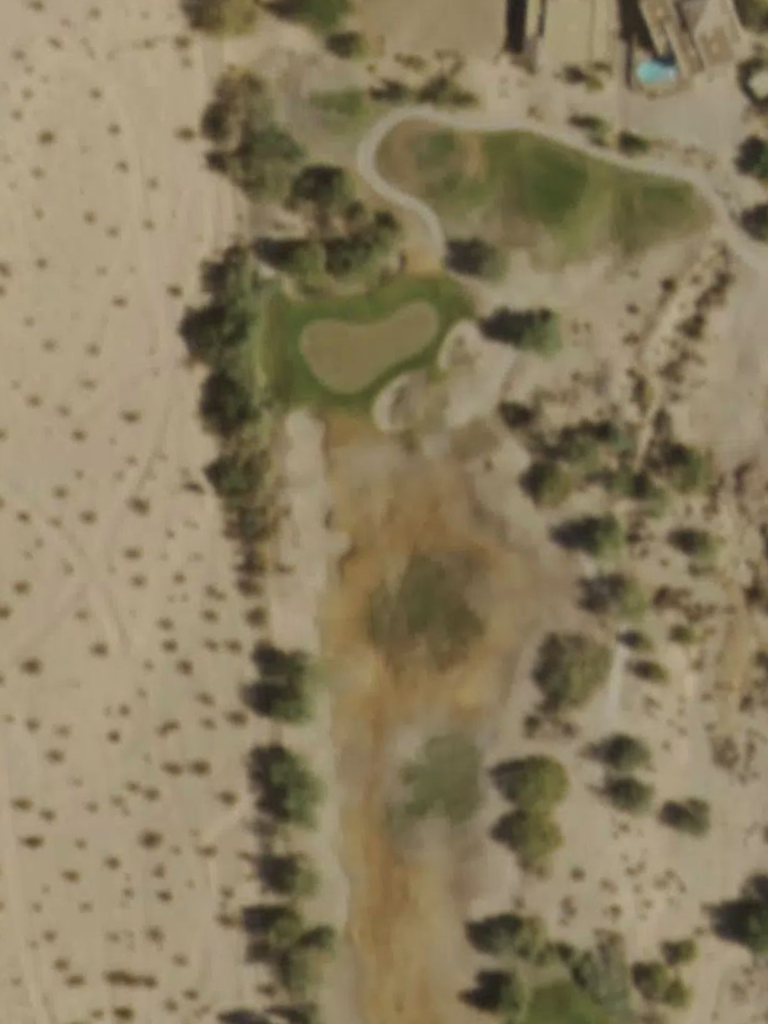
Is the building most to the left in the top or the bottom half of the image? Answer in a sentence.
It is in the top half that the building most to the left appears.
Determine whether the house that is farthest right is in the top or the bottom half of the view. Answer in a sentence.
The top half of the photo is where the house that is farthest right is.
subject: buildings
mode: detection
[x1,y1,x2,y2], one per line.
[642,0,743,78]
[526,0,610,61]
